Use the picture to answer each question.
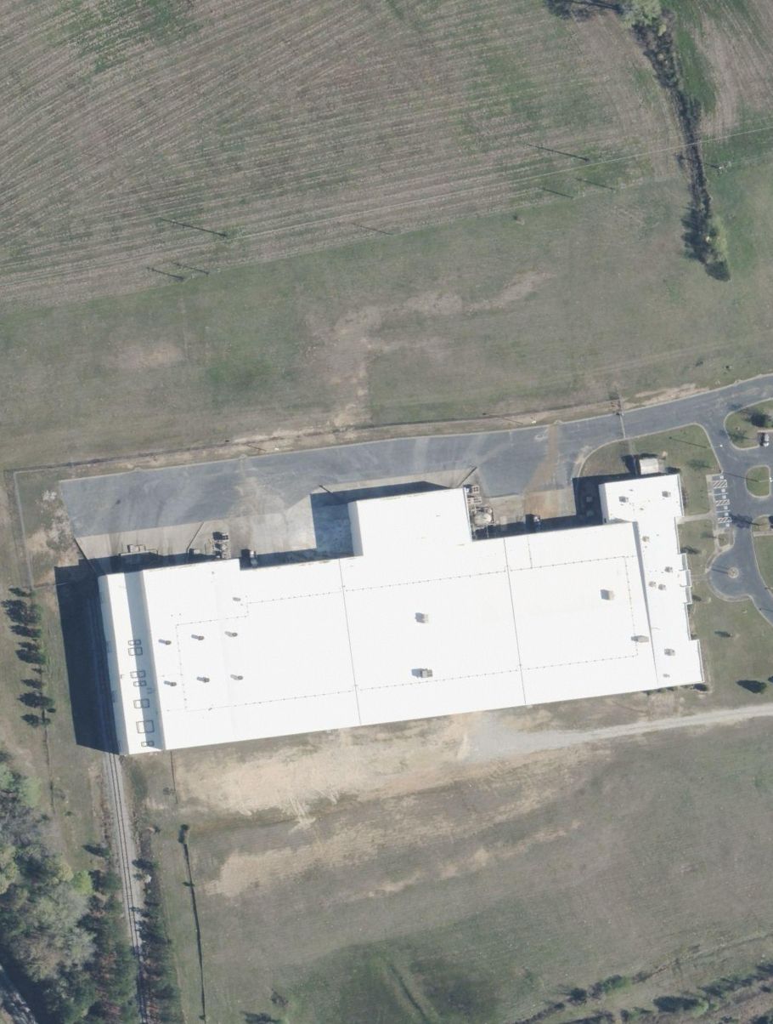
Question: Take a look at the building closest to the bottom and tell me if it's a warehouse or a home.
warehouse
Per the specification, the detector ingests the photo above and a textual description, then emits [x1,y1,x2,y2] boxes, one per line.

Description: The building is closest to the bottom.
[98,474,704,755]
